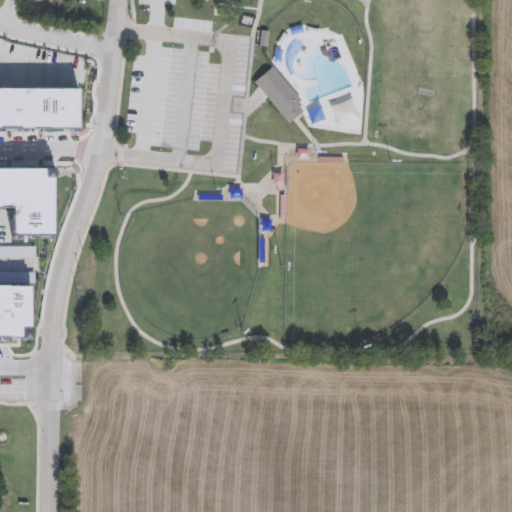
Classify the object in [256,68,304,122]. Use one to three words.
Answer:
building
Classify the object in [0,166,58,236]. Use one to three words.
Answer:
building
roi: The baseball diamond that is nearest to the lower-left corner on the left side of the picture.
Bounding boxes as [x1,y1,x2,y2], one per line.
[120,199,258,338]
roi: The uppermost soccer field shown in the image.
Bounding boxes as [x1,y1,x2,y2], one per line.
[372,0,469,154]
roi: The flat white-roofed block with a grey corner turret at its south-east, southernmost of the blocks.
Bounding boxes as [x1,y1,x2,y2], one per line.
[0,286,34,338]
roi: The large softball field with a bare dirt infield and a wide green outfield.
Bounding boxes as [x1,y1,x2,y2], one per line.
[285,164,466,350]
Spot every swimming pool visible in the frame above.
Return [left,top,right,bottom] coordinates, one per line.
[274,26,363,135]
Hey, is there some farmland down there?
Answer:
Yes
